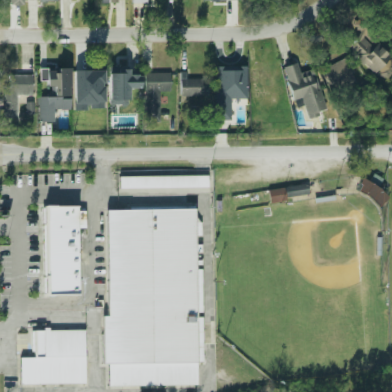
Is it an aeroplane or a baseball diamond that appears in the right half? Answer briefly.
baseball diamond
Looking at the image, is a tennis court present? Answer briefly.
No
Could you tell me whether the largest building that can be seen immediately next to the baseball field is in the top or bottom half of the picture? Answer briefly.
bottom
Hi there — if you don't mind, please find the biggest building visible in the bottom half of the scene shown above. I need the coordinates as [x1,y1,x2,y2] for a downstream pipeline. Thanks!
[102,210,203,386]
